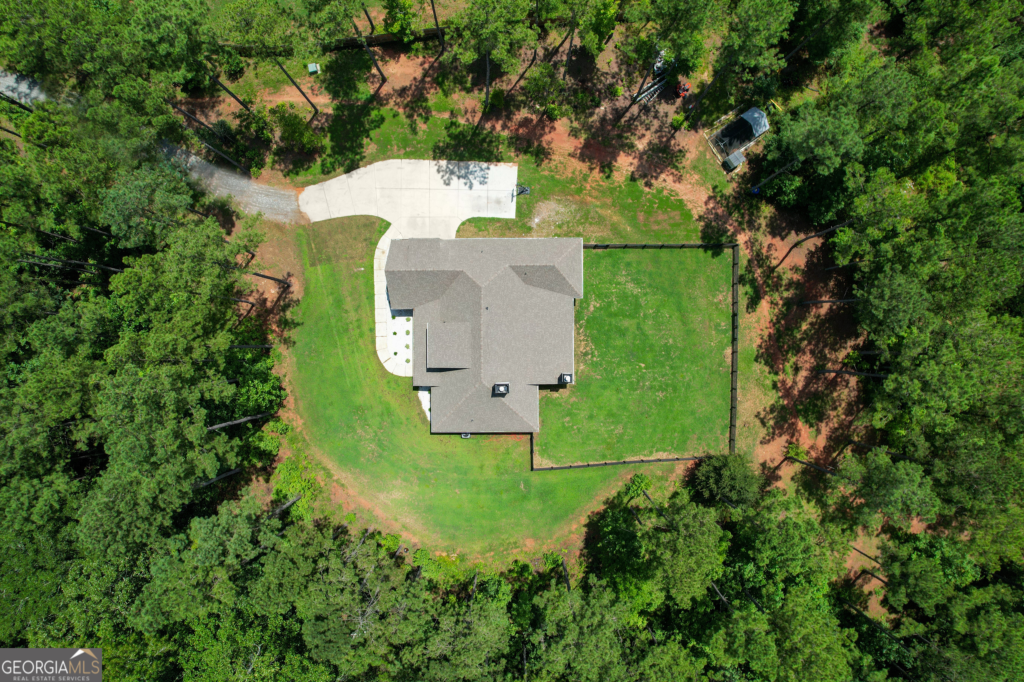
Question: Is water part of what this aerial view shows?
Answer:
No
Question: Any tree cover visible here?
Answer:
Yes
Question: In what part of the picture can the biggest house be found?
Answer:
center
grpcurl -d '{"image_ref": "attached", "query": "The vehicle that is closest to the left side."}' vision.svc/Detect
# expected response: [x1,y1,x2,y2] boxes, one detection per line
[675,80,694,99]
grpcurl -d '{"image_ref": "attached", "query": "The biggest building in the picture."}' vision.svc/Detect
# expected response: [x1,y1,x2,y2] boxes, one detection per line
[385,236,584,433]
